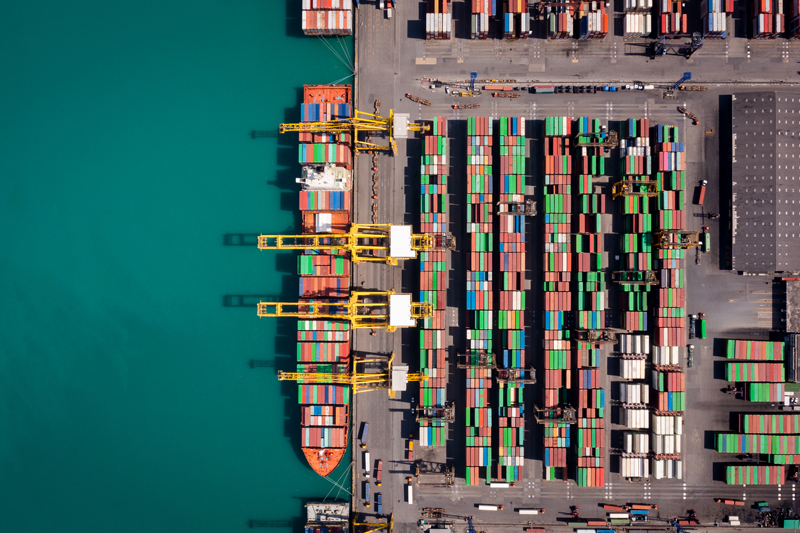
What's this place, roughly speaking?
port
